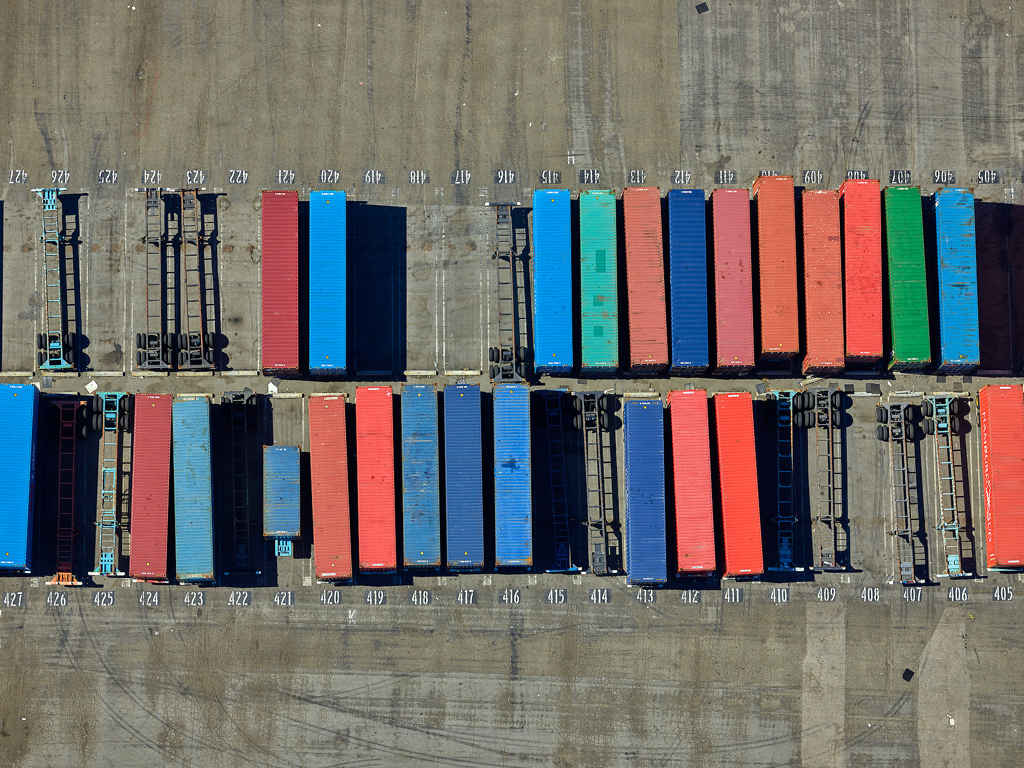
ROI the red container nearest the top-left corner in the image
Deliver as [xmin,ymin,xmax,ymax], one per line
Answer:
[262,190,300,375]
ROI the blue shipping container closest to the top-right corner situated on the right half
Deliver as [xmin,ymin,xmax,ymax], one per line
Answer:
[930,188,980,371]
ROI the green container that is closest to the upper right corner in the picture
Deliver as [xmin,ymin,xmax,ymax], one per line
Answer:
[881,186,931,370]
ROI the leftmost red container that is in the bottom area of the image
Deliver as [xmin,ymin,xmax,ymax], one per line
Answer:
[129,393,173,580]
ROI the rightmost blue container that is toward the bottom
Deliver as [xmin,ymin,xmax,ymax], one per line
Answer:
[622,400,667,586]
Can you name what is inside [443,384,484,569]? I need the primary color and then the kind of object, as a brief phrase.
blue shipping container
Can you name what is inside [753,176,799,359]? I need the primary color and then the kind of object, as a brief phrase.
red shipping container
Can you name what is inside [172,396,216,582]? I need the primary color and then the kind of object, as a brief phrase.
blue shipping container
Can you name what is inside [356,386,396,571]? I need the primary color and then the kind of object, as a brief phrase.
red shipping container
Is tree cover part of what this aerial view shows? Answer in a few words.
No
